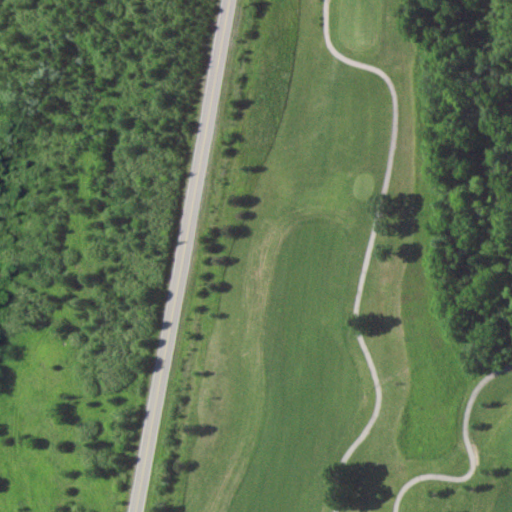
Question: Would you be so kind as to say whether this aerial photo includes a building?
No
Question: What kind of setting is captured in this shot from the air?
golf course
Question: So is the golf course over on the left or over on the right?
right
